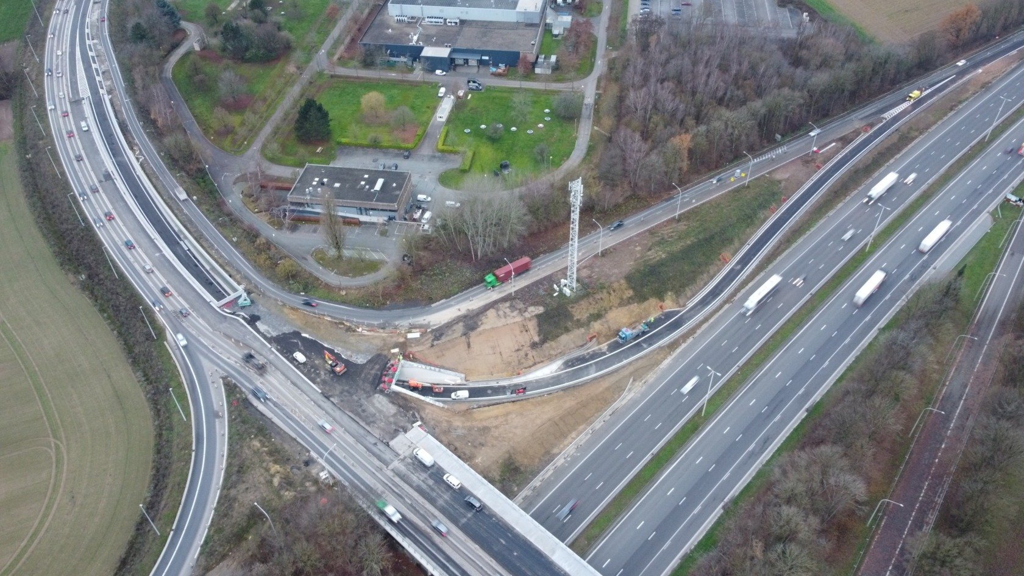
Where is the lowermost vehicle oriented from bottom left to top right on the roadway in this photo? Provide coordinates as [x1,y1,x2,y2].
[558,502,575,520]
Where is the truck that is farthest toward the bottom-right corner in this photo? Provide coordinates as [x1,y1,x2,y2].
[853,271,887,306]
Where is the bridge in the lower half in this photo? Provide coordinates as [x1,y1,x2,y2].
[319,425,603,576]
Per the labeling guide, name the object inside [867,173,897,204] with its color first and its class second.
white truck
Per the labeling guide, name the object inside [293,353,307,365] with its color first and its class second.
white vehicle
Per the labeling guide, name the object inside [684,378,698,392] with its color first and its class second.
white vehicle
